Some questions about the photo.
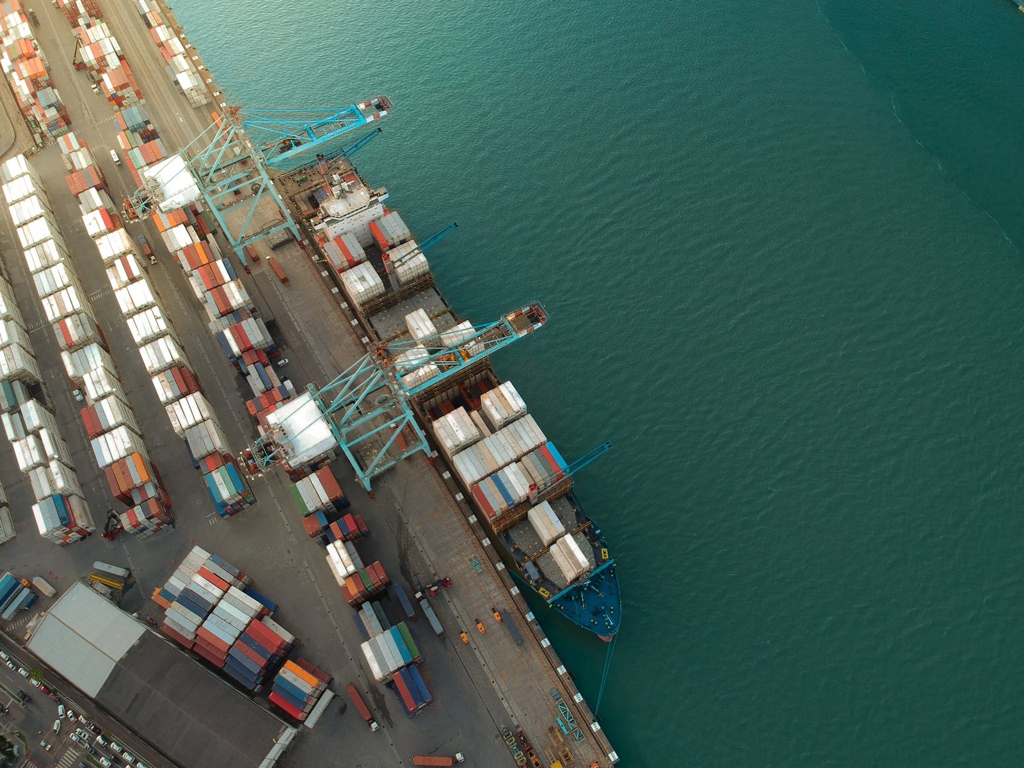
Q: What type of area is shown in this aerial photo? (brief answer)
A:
port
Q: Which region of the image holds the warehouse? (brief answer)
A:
bottom left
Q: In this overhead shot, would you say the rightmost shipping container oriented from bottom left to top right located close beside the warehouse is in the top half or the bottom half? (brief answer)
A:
bottom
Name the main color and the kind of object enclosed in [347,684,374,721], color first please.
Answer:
red shipping container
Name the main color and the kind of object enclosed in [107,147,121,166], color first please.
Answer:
white vehicle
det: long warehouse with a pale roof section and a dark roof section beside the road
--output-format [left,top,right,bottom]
[24,580,306,768]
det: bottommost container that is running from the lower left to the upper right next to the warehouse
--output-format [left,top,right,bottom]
[304,687,336,726]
